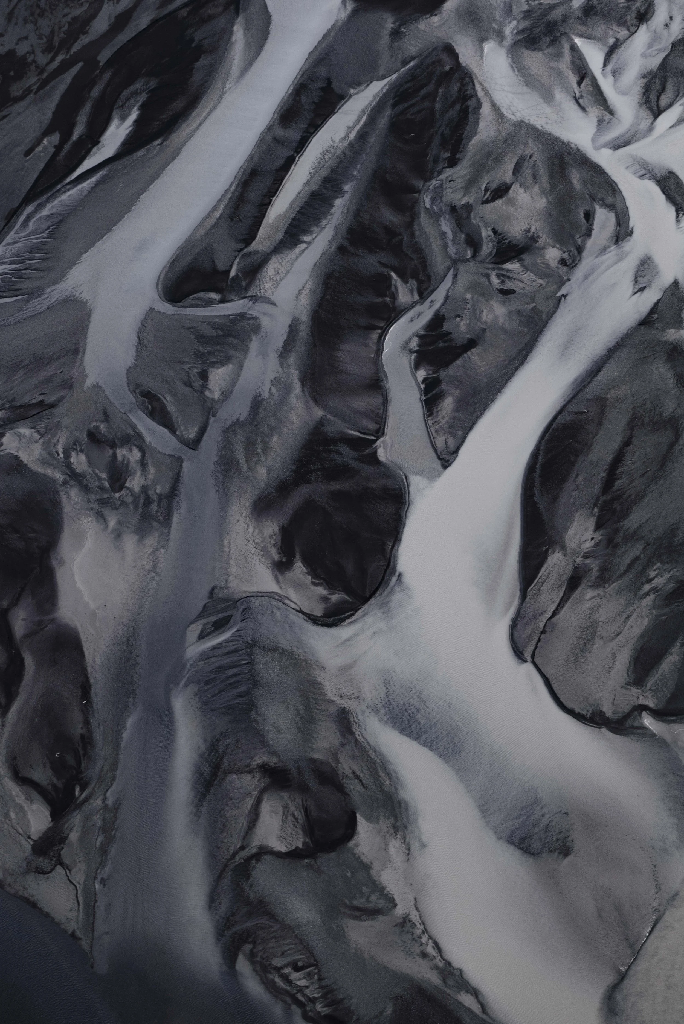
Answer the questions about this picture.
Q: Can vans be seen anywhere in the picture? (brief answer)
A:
No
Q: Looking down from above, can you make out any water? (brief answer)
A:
Yes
